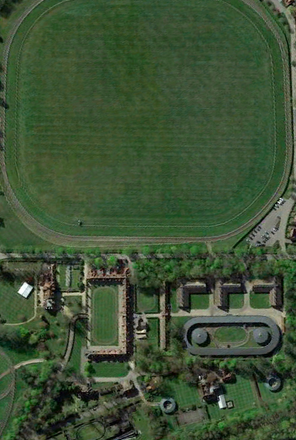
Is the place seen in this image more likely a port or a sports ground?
sports ground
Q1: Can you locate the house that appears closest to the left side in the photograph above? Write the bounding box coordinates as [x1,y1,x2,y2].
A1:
[41,264,56,308]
